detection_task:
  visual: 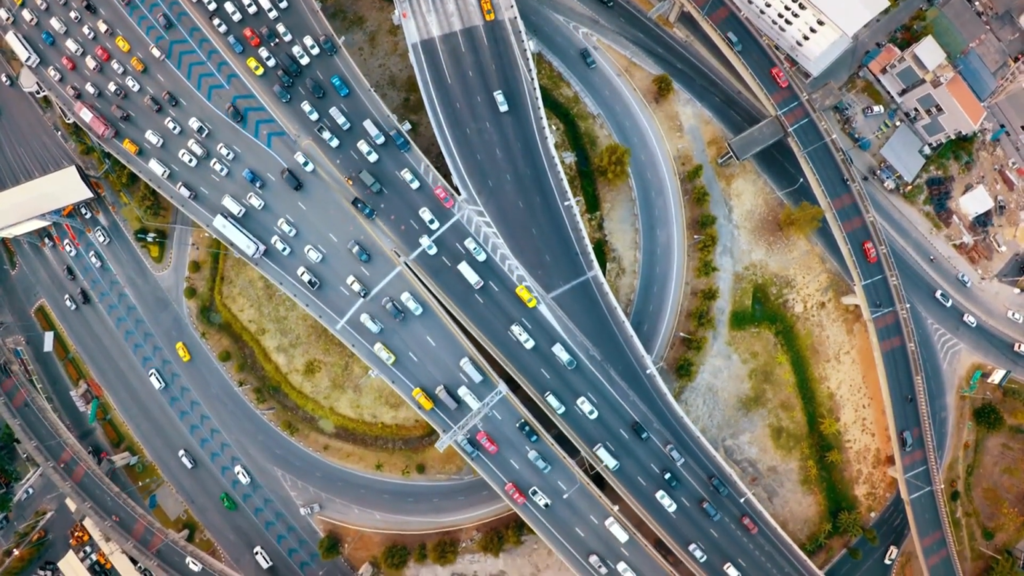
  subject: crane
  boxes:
[949,216,984,257]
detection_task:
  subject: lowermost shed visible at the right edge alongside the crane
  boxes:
[947,184,994,222]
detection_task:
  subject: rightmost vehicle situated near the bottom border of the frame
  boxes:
[883,542,898,565]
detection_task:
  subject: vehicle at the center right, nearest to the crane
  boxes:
[985,234,1001,253]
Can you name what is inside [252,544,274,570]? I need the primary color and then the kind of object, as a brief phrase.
white car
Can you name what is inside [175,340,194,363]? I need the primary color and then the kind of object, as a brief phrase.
yellow car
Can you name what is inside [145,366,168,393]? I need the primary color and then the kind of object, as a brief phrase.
white vehicle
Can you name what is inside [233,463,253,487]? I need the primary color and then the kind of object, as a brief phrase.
white car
